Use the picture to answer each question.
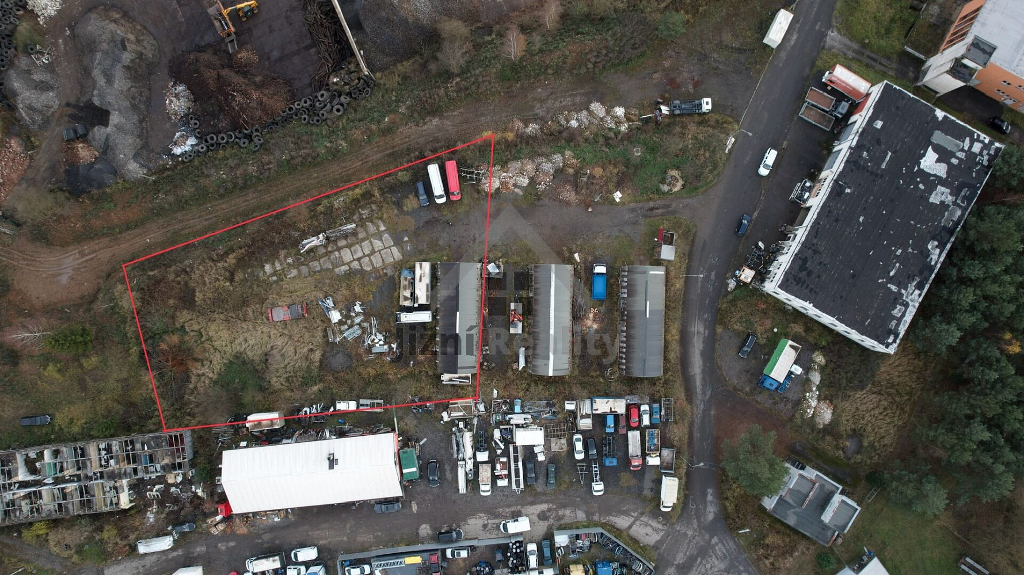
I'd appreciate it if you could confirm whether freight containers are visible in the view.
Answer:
Yes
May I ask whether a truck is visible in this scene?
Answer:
Yes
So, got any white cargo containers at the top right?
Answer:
Yes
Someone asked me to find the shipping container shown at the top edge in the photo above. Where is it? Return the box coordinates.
[763,8,794,48]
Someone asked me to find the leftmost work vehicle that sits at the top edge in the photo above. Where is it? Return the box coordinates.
[225,0,265,25]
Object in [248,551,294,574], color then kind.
white truck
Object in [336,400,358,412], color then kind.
white vehicle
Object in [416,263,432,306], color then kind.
white trailer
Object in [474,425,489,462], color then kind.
white vehicle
